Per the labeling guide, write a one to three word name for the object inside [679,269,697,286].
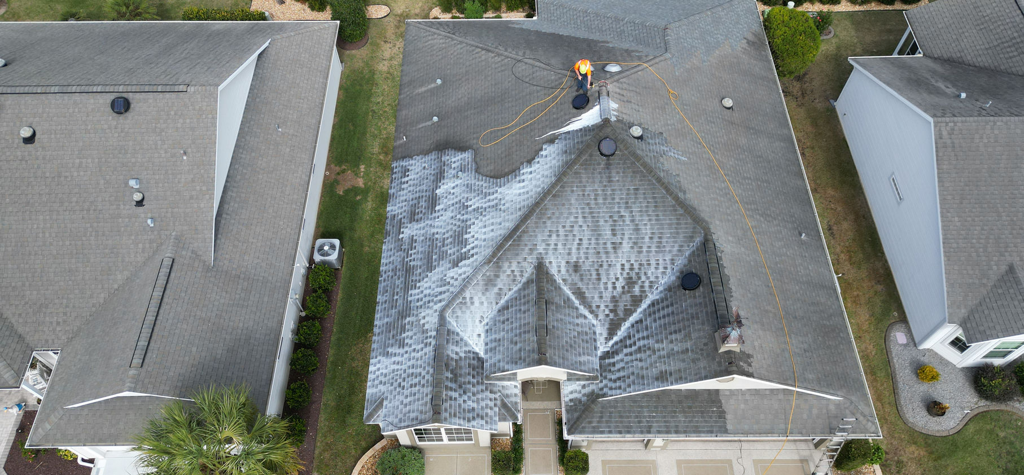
solar panel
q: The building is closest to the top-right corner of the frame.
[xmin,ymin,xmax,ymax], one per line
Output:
[830,0,1024,366]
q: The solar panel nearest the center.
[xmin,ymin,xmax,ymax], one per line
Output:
[599,137,617,155]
